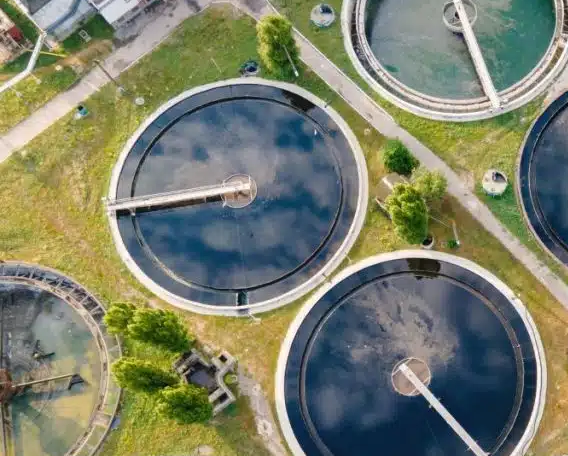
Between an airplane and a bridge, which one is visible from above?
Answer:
bridge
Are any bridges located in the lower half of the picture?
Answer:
Yes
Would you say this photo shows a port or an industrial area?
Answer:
industrial area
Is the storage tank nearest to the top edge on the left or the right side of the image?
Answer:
right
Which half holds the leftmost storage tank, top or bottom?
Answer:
bottom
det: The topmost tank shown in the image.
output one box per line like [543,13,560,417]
[344,0,568,121]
